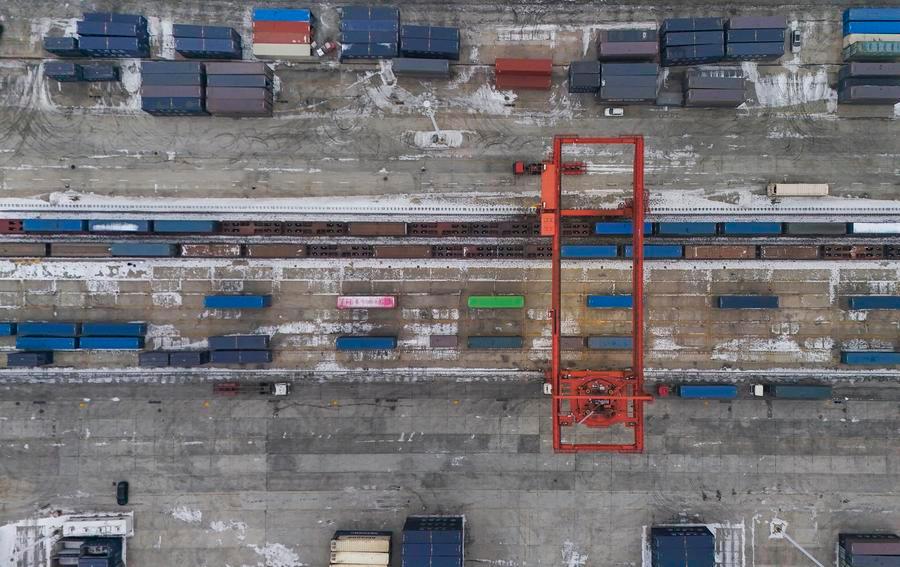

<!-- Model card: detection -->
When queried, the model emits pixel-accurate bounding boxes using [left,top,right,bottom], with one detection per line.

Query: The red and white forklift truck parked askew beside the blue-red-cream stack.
[317,39,340,57]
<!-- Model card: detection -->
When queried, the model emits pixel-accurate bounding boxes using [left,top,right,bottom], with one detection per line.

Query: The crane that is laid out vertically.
[528,133,654,455]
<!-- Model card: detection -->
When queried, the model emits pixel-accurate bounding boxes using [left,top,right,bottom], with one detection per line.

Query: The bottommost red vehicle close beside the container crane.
[656,383,687,398]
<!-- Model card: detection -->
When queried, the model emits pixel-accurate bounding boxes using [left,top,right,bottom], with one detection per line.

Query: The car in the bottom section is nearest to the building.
[117,482,129,505]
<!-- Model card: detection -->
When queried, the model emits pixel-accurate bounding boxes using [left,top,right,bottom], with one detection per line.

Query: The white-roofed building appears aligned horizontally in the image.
[63,517,131,536]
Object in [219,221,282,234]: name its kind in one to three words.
rail car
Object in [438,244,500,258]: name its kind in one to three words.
rail car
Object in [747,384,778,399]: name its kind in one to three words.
vehicle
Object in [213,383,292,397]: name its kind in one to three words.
vehicle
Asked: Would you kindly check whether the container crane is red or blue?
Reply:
red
